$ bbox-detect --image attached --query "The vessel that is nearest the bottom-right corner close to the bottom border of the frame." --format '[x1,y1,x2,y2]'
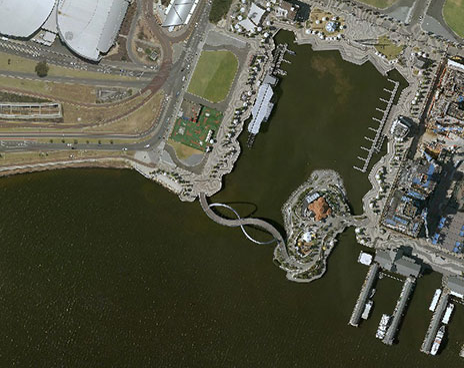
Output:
[431,326,444,355]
